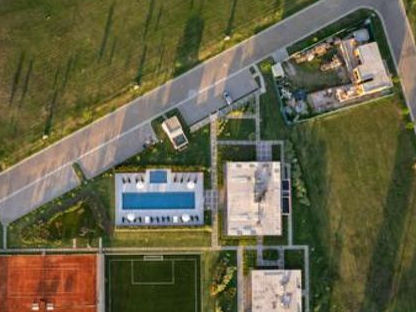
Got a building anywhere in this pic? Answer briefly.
Yes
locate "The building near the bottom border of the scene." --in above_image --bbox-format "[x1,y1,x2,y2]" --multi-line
[249,268,302,312]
